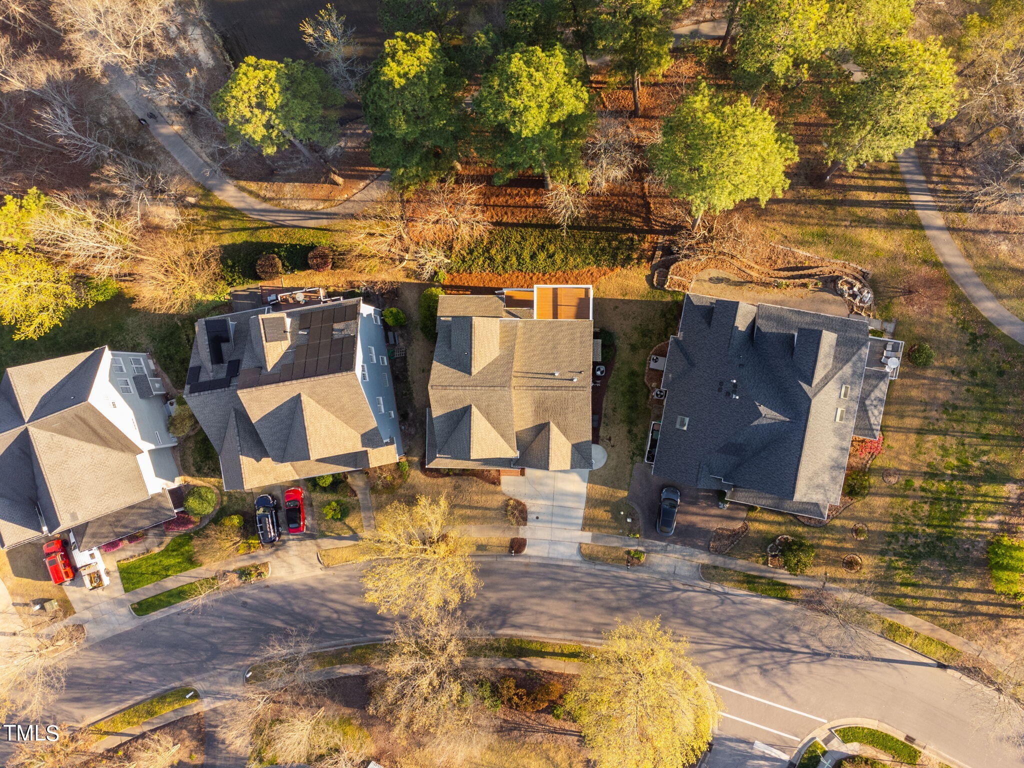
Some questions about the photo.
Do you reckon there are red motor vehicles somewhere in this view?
Yes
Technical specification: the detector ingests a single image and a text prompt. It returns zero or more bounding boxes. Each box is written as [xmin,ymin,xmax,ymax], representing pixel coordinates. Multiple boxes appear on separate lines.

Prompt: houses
[179,296,403,491]
[425,284,597,477]
[650,291,906,520]
[0,345,188,552]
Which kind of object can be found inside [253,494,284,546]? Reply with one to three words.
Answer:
car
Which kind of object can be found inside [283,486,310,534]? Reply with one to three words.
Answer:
car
